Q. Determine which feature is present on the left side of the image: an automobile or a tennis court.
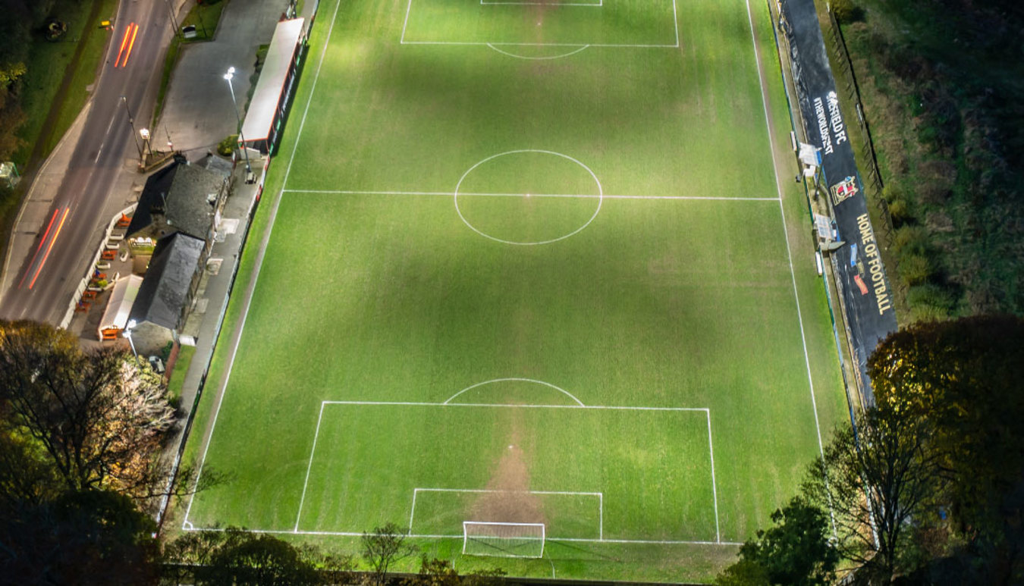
automobile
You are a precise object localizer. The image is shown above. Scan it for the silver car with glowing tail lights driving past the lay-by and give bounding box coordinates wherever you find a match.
[36,223,61,248]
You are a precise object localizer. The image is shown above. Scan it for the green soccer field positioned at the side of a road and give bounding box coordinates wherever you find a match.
[144,0,878,586]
